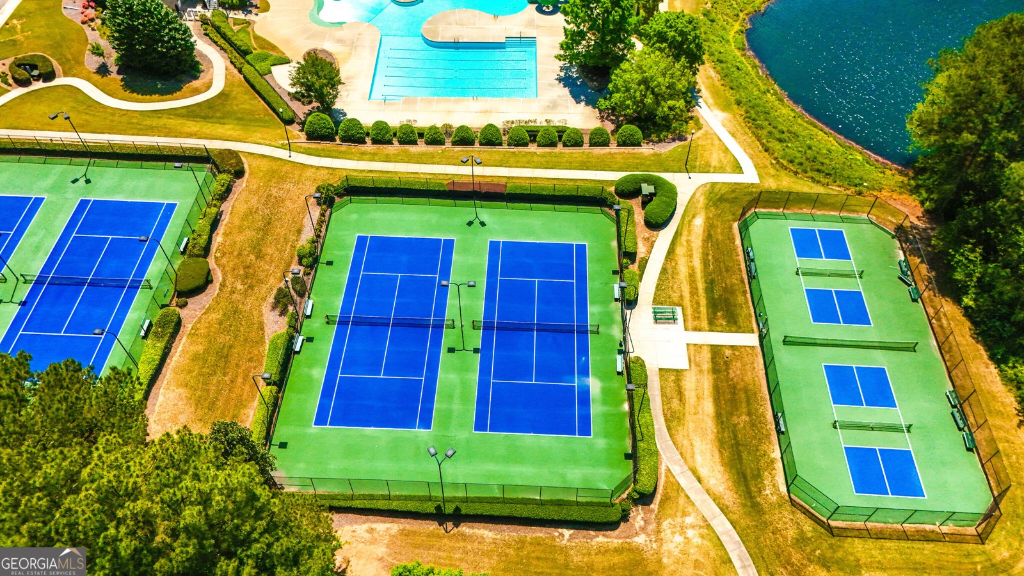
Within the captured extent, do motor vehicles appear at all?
No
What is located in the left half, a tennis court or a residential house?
tennis court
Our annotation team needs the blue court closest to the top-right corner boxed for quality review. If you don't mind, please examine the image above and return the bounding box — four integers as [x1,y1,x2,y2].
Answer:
[789,227,874,325]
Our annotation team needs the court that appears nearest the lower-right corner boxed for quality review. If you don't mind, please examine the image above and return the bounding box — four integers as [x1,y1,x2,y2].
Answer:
[822,364,927,497]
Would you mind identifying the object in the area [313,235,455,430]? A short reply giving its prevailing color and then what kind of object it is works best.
blue tennis court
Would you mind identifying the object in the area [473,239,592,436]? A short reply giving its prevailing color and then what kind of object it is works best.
blue tennis court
